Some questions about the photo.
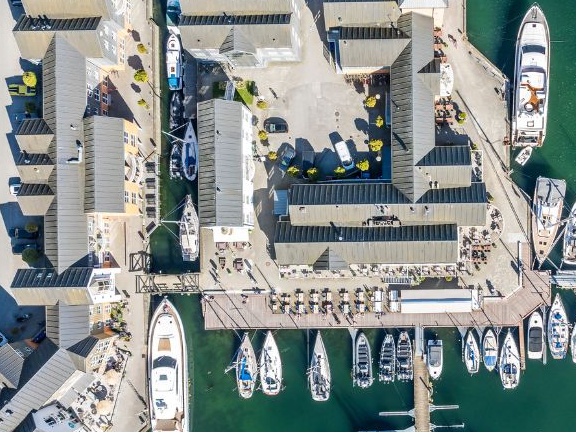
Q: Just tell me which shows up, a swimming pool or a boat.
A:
boat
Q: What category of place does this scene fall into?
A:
industrial area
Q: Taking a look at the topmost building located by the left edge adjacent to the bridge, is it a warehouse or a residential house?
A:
warehouse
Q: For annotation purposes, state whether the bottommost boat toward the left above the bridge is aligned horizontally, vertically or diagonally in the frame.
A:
vertically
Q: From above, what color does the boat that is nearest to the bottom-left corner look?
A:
white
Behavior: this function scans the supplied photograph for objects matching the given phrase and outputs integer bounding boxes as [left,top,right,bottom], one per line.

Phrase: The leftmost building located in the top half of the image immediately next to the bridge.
[15,28,147,285]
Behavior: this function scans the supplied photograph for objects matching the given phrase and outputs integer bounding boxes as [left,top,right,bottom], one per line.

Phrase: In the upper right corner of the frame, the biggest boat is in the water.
[513,1,552,151]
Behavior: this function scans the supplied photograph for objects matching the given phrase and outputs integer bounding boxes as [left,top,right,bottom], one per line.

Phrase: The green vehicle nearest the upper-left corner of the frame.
[9,83,39,98]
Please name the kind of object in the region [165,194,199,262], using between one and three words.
boat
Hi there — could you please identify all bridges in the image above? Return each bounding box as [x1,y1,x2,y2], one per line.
[131,274,203,294]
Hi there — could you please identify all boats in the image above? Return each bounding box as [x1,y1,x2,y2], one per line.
[227,329,258,399]
[513,1,552,151]
[166,32,183,92]
[165,194,199,262]
[546,288,576,360]
[255,329,283,396]
[482,330,498,370]
[378,335,396,382]
[498,330,522,389]
[563,204,576,270]
[172,120,197,182]
[525,315,544,359]
[147,298,191,432]
[354,333,373,388]
[514,146,534,164]
[396,332,413,381]
[426,339,444,380]
[531,176,567,269]
[169,145,184,180]
[306,330,331,400]
[166,0,183,30]
[463,330,480,373]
